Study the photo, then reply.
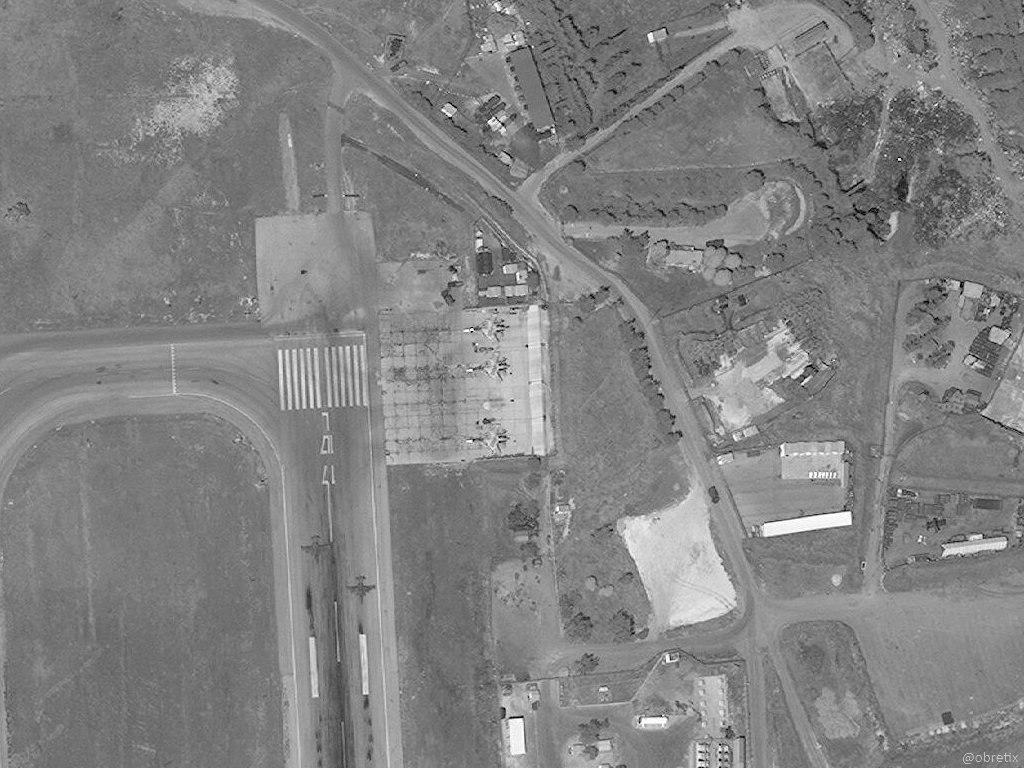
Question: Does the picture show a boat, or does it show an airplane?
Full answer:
Looking from above, you can make out an airplane.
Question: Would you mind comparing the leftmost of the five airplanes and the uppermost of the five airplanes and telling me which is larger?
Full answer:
The leftmost of the five airplanes is smaller than the uppermost of the five airplanes.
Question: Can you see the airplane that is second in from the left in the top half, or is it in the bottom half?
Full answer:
The airplane that is second in from the left sits in the bottom half of the picture.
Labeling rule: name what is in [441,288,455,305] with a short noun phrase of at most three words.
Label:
vehicle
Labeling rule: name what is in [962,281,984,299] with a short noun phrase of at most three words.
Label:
house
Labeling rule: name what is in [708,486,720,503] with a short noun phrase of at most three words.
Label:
vehicle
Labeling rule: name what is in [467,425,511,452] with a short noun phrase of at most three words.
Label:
airplane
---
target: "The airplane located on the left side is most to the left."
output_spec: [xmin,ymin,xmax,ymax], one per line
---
[302,535,331,561]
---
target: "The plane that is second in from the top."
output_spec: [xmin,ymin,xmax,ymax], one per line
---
[466,353,511,380]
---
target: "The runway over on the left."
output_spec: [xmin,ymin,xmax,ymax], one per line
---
[130,331,402,768]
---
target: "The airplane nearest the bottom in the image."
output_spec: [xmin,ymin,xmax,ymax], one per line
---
[346,576,375,603]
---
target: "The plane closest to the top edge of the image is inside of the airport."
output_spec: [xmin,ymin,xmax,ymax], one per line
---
[463,314,509,341]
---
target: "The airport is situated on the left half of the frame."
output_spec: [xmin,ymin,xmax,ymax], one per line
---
[0,113,553,768]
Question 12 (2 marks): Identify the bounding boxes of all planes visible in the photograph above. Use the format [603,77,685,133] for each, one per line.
[302,535,331,561]
[466,353,511,380]
[463,314,509,341]
[346,576,375,603]
[467,425,511,452]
